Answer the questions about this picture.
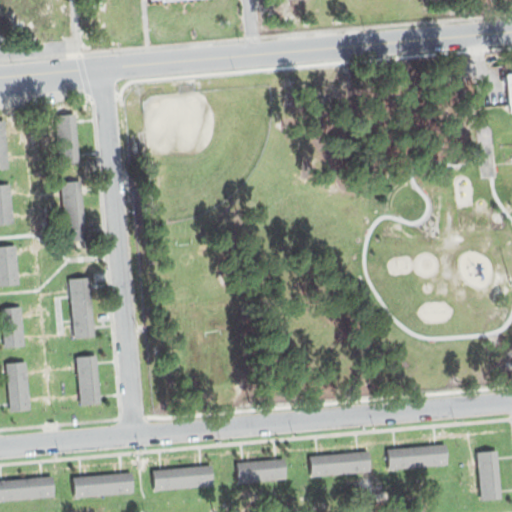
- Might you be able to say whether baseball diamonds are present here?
Yes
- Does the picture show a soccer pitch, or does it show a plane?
soccer pitch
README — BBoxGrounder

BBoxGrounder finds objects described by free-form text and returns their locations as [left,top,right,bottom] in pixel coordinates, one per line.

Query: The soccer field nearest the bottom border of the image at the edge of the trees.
[171,244,225,334]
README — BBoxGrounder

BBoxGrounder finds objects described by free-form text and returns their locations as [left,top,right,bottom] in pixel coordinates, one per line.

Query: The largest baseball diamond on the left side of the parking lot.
[142,87,281,221]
